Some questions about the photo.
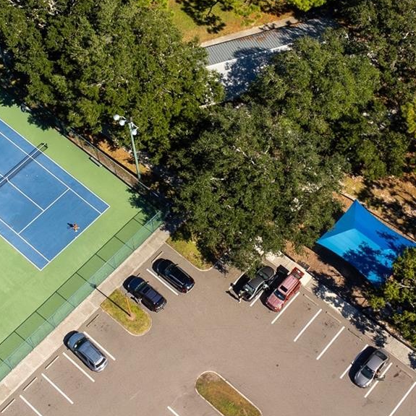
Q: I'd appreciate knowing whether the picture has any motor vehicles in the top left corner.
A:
No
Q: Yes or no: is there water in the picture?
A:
No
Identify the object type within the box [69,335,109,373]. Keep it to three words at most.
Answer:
car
